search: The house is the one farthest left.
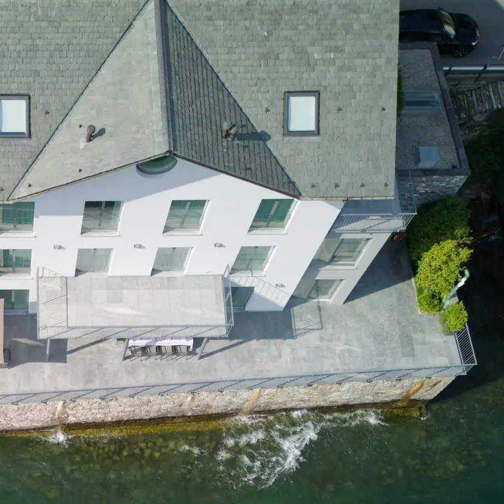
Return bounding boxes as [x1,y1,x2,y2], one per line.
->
[0,0,415,363]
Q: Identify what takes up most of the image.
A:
buildings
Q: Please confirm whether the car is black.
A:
Yes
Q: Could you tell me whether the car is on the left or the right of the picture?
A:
right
